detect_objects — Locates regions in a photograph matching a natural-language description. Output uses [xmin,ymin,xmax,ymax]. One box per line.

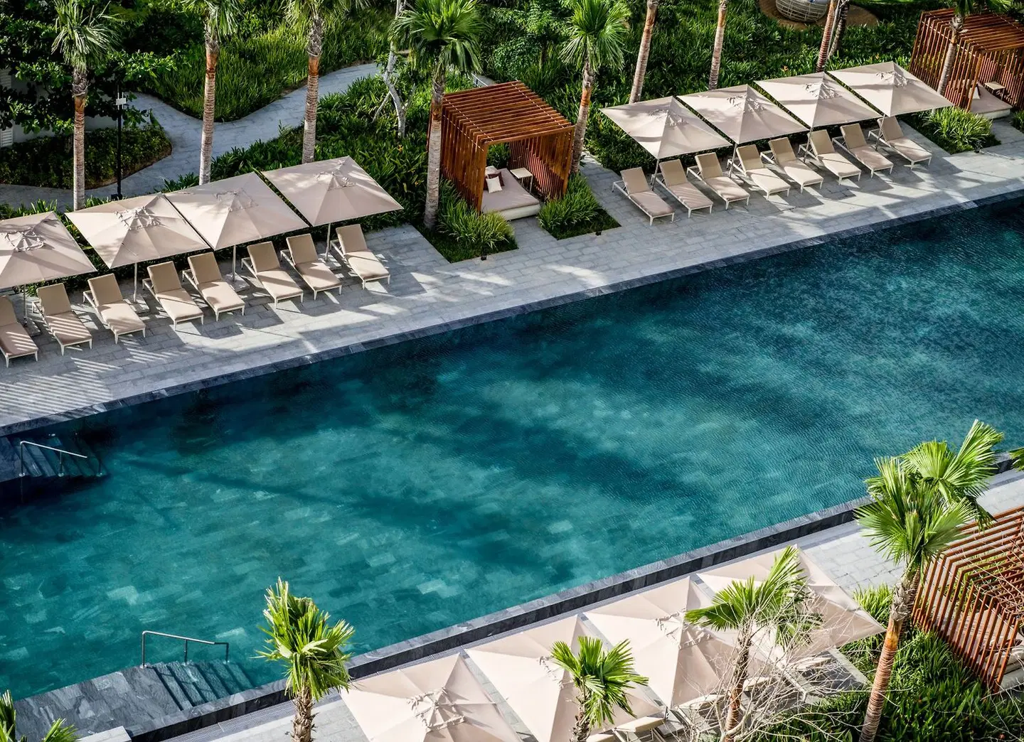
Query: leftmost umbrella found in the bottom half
[342,652,532,742]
